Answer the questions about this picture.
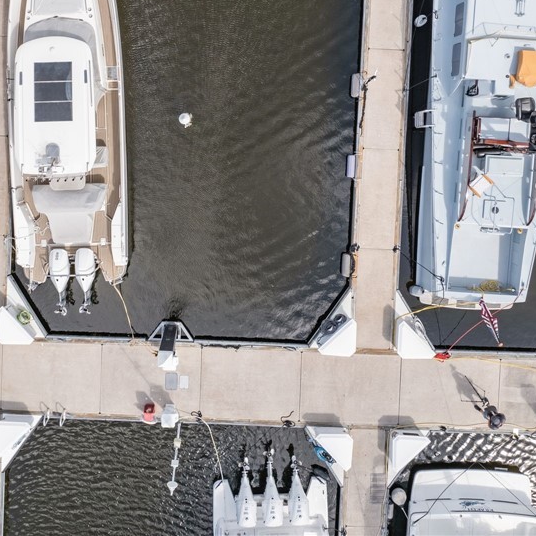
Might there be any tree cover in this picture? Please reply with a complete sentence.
No, the scene doesn't show any tree cover.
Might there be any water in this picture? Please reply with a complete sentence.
Yes, some water is visible.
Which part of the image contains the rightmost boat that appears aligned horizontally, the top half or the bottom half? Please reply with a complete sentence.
You can find the rightmost boat that appears aligned horizontally in the bottom half.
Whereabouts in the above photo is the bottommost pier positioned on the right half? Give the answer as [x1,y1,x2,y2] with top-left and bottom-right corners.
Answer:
[333,430,391,536]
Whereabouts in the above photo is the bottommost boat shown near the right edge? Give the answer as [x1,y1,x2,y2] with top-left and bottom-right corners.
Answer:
[392,467,536,536]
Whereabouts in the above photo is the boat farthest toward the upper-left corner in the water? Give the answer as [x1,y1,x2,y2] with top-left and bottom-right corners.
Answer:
[8,0,130,318]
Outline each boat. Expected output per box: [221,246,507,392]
[392,467,536,536]
[212,442,330,536]
[408,0,536,311]
[8,0,130,318]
